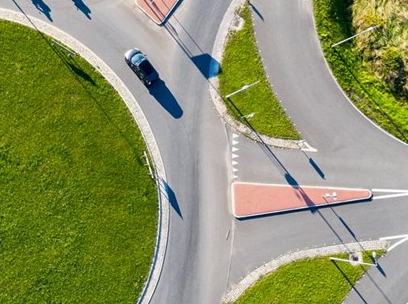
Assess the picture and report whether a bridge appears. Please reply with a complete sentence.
No, I can see no bridge in this picture.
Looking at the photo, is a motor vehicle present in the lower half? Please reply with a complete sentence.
No, the scene shows no motor vehicle in the lower half.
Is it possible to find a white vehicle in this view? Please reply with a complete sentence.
No, I find no white vehicle anywhere in the image.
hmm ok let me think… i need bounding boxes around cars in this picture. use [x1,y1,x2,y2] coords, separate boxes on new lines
[127,49,158,87]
